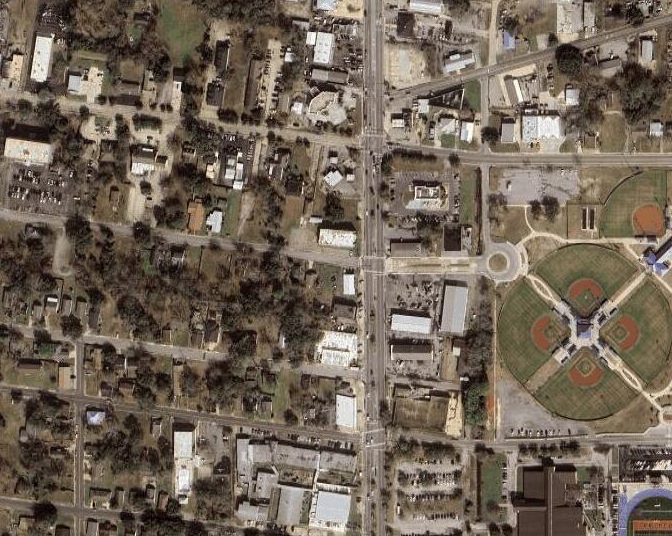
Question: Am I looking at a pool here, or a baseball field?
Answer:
baseball field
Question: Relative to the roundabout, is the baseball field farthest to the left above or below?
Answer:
below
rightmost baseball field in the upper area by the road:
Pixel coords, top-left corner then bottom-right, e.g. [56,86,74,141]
[601,170,666,237]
